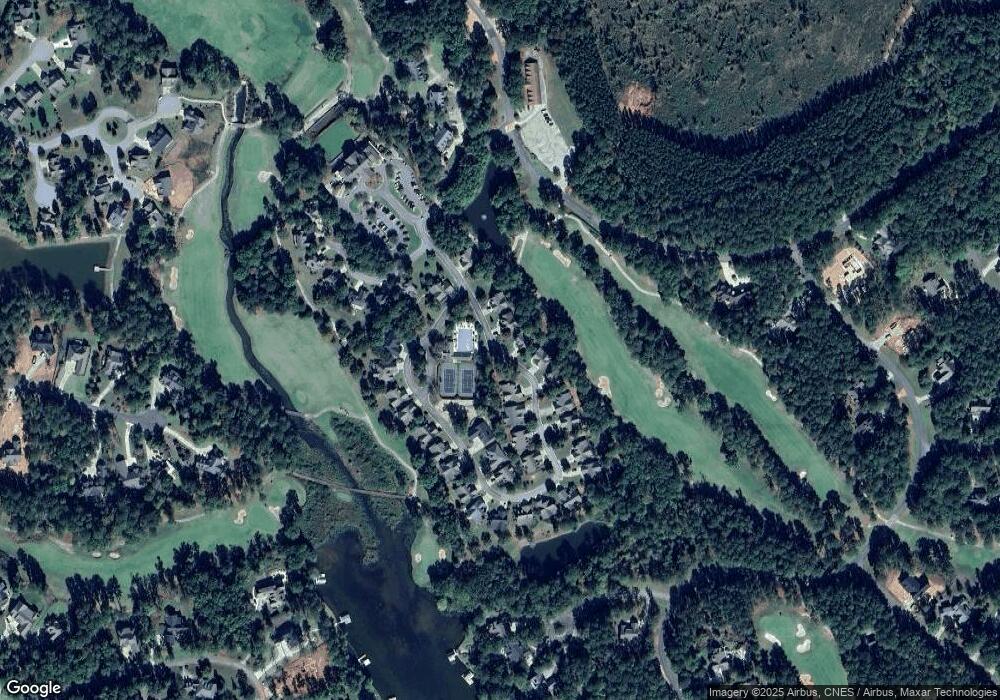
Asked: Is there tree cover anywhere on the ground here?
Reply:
Yes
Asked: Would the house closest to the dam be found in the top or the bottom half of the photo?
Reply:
top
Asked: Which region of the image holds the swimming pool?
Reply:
center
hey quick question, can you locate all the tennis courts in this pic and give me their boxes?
[459,363,476,397]
[440,363,458,397]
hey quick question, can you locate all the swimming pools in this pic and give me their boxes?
[452,321,479,352]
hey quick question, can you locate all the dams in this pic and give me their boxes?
[105,236,123,293]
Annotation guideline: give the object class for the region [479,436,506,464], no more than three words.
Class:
house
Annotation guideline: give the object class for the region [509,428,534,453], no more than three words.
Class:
house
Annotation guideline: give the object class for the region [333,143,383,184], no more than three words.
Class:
building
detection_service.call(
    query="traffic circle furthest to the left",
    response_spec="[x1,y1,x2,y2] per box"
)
[93,108,134,149]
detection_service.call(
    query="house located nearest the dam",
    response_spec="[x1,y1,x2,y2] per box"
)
[103,201,130,229]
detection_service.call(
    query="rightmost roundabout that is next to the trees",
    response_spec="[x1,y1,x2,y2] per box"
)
[358,165,388,195]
